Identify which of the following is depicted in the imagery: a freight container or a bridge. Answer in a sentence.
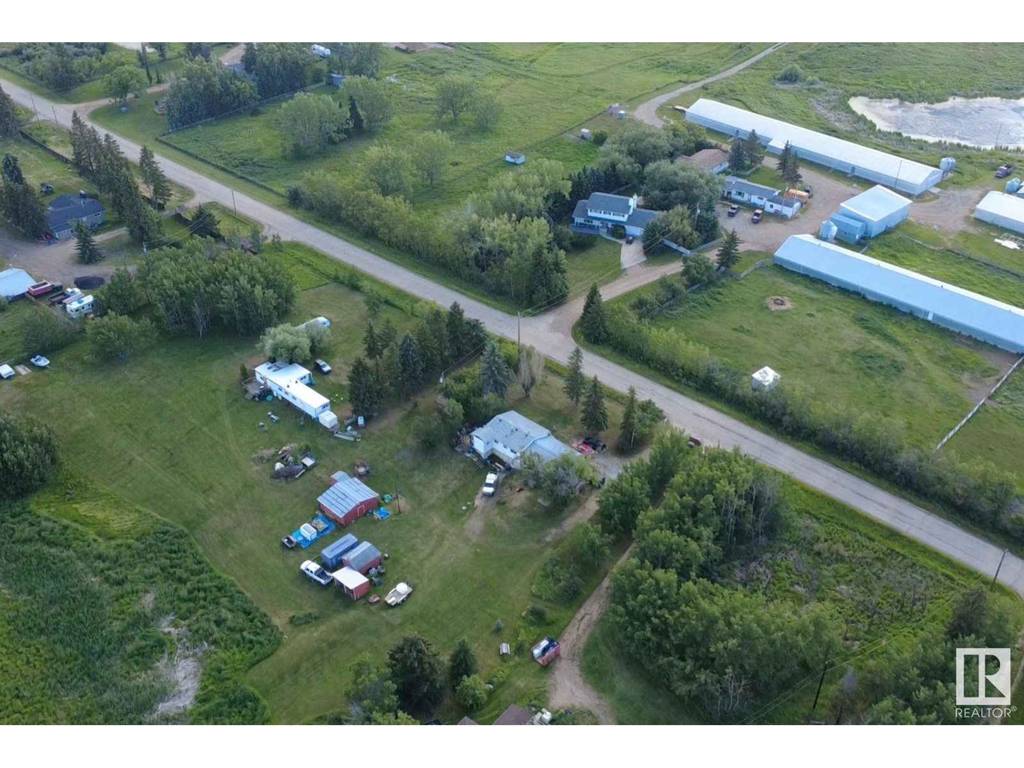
The one in the frame is a freight container.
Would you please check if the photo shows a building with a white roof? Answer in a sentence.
Yes, there is a building with a white roof in the image.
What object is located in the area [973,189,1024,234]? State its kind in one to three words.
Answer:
barn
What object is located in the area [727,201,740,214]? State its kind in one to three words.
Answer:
vehicle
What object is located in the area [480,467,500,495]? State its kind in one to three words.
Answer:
vehicle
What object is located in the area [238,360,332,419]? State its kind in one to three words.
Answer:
house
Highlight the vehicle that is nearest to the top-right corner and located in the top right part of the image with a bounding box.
[996,161,1017,176]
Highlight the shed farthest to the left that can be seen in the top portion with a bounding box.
[0,260,38,303]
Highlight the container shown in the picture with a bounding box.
[322,533,354,568]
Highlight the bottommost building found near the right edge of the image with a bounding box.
[772,232,1024,355]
